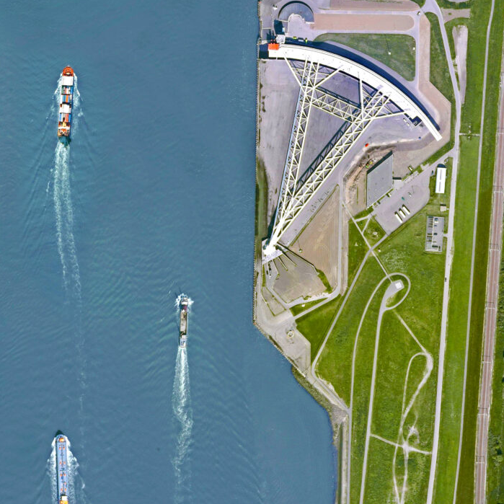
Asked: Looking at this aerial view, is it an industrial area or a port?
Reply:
port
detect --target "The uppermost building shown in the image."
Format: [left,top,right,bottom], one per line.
[279,1,314,34]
